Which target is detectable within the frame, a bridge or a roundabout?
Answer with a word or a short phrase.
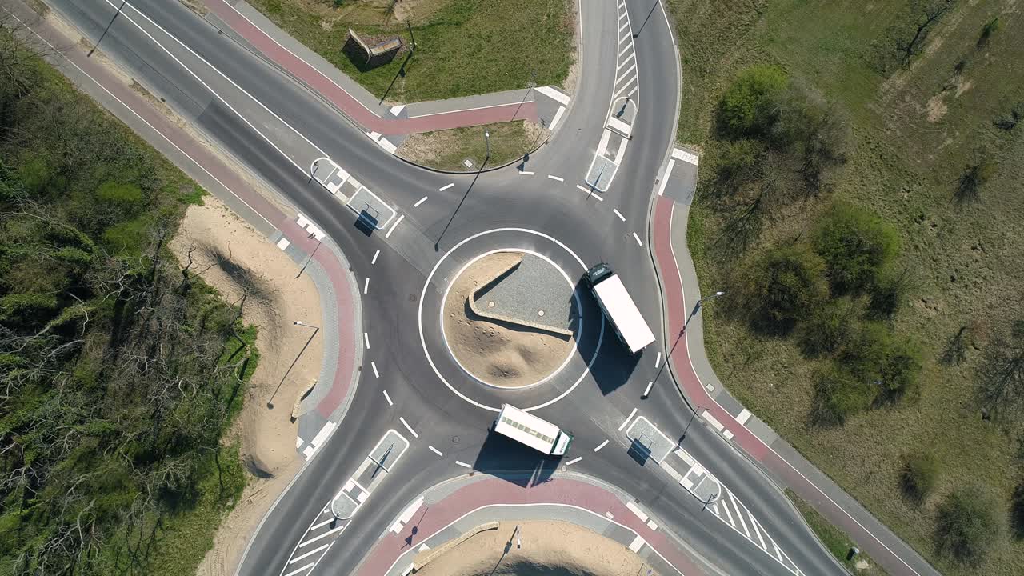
roundabout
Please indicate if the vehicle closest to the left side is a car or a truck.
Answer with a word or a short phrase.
truck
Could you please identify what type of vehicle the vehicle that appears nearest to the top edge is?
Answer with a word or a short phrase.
truck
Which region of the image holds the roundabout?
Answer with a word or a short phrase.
center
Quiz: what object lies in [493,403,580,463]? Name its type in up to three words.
truck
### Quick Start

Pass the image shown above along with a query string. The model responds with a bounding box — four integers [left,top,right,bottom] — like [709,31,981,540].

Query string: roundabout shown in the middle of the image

[371,181,652,462]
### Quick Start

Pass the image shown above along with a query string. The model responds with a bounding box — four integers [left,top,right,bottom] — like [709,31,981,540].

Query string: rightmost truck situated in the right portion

[580,258,656,355]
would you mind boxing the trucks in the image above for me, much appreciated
[493,403,580,463]
[580,258,656,355]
